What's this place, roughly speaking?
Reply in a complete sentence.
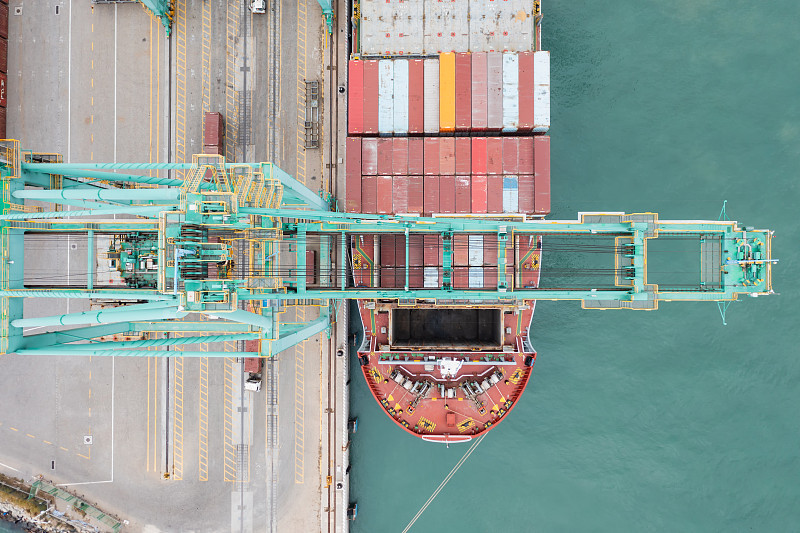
It's a port.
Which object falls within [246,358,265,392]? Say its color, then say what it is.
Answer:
white vehicle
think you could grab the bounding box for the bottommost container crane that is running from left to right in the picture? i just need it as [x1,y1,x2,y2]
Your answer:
[0,140,779,358]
